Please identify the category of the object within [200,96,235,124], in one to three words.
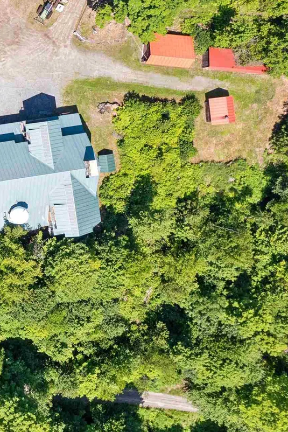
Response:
shed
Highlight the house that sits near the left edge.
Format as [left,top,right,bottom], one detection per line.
[0,113,101,237]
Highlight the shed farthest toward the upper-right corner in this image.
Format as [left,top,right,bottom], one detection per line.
[194,48,267,75]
